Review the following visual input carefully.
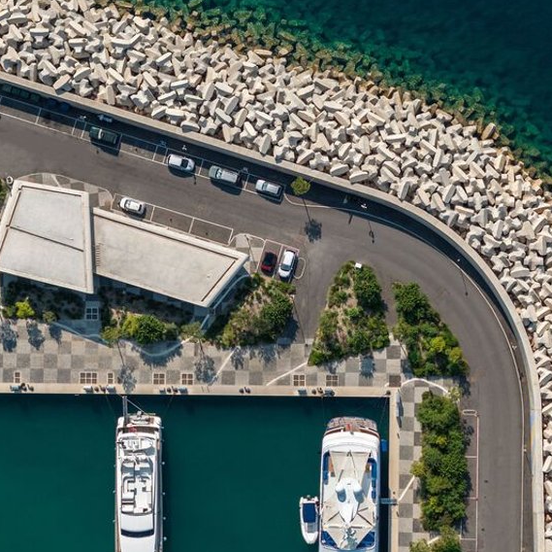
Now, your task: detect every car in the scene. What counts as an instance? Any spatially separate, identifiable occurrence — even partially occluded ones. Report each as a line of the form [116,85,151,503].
[165,153,194,171]
[254,178,283,195]
[208,164,239,183]
[87,126,119,145]
[279,248,296,279]
[261,250,277,274]
[117,198,146,214]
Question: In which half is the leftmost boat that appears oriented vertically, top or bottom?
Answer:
bottom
